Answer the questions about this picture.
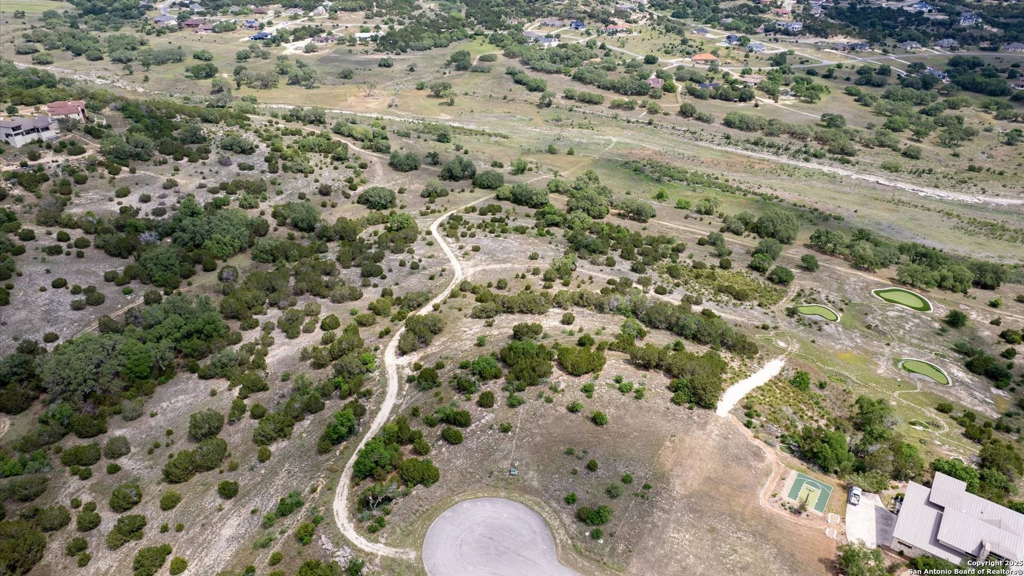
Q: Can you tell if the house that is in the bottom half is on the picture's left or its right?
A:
right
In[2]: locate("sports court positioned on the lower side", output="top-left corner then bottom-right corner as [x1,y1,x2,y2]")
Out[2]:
[788,472,832,512]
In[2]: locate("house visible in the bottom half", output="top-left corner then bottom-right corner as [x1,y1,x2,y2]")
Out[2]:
[890,472,1024,576]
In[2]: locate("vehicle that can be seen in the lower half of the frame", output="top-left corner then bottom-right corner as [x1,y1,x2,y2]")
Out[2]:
[848,486,861,509]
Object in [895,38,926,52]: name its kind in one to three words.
house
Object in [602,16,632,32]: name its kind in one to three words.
house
